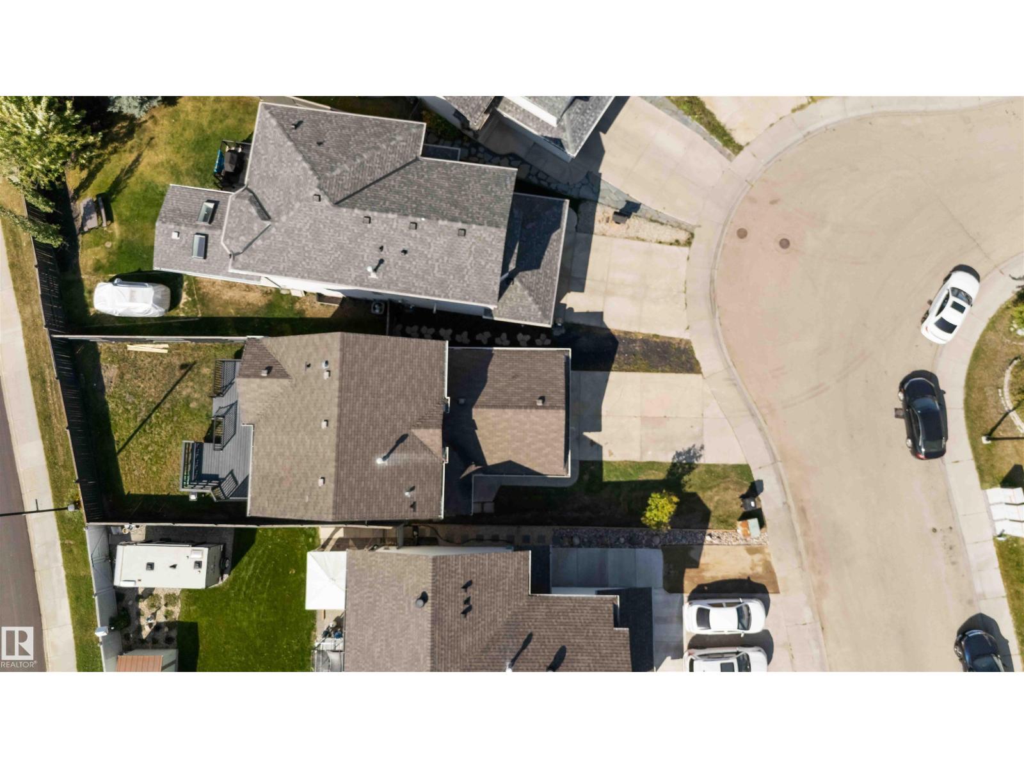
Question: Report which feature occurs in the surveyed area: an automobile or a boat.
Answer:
automobile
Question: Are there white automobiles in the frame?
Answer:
Yes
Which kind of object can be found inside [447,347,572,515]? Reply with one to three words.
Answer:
building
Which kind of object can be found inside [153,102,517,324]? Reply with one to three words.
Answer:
house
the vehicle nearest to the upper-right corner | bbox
[918,270,976,344]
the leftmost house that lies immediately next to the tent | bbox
[238,332,451,521]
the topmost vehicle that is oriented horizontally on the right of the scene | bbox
[681,597,766,639]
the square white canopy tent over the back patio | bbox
[305,547,355,609]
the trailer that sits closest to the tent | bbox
[114,539,239,589]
